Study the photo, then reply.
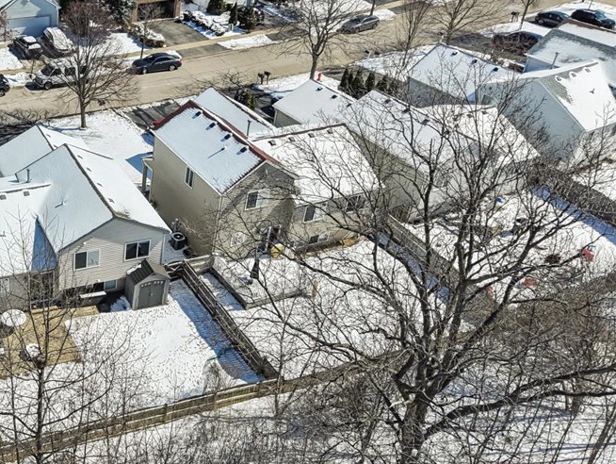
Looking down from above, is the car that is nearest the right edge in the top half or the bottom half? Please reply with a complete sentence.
The top half of the photo is where the car that is nearest the right edge is.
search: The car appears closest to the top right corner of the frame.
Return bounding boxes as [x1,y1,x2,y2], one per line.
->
[567,6,616,28]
